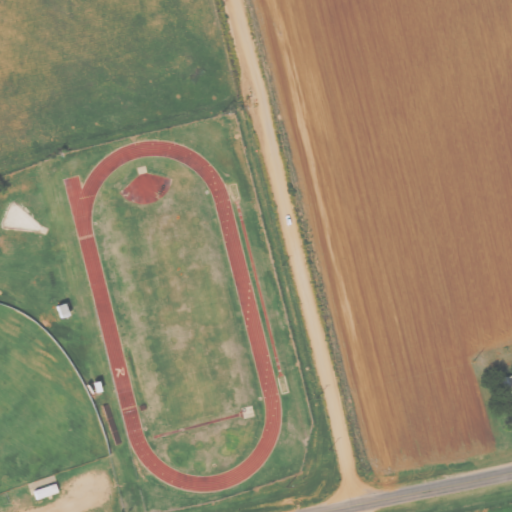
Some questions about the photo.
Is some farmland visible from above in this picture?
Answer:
Yes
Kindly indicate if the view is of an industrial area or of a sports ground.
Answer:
sports ground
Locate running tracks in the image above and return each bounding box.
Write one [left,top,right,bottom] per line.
[64,141,282,492]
